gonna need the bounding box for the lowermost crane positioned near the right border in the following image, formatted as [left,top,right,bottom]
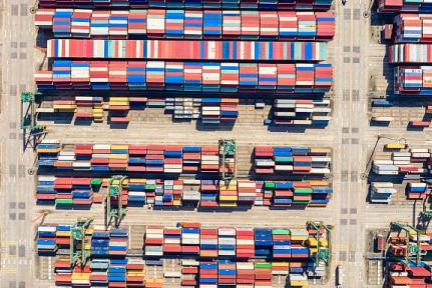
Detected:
[387,218,421,268]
